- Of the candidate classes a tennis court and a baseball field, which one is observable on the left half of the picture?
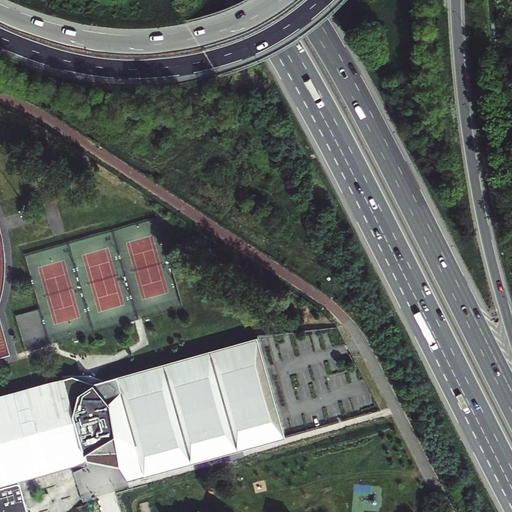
tennis court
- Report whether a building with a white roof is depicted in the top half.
No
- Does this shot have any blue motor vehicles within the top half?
No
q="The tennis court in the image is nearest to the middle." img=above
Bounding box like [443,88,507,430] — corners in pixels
[114,218,182,316]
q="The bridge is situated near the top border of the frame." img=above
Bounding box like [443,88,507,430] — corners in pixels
[186,0,344,78]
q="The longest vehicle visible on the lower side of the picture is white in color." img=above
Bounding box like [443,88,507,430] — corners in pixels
[414,311,440,351]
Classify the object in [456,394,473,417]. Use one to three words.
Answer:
vehicle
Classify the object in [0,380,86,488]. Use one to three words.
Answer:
building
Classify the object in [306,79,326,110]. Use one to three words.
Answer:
vehicle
